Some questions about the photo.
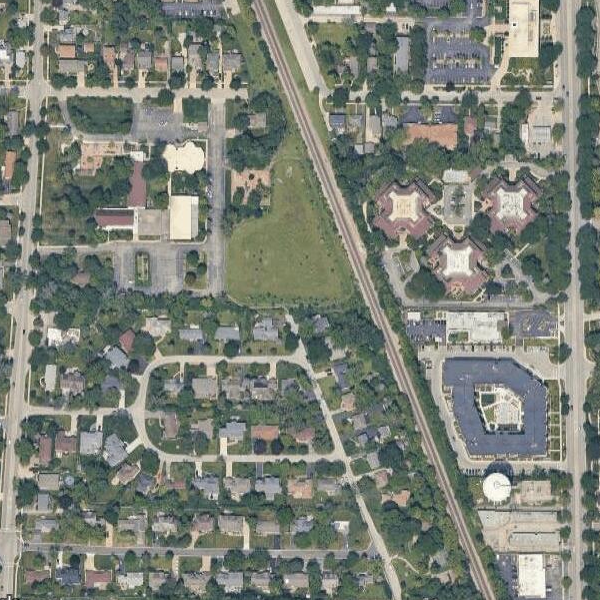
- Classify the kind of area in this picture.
residential area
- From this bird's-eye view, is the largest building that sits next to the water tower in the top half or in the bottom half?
bottom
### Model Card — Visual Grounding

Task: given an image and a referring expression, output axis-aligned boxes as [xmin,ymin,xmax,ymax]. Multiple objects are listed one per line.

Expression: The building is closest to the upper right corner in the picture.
[510,0,539,61]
